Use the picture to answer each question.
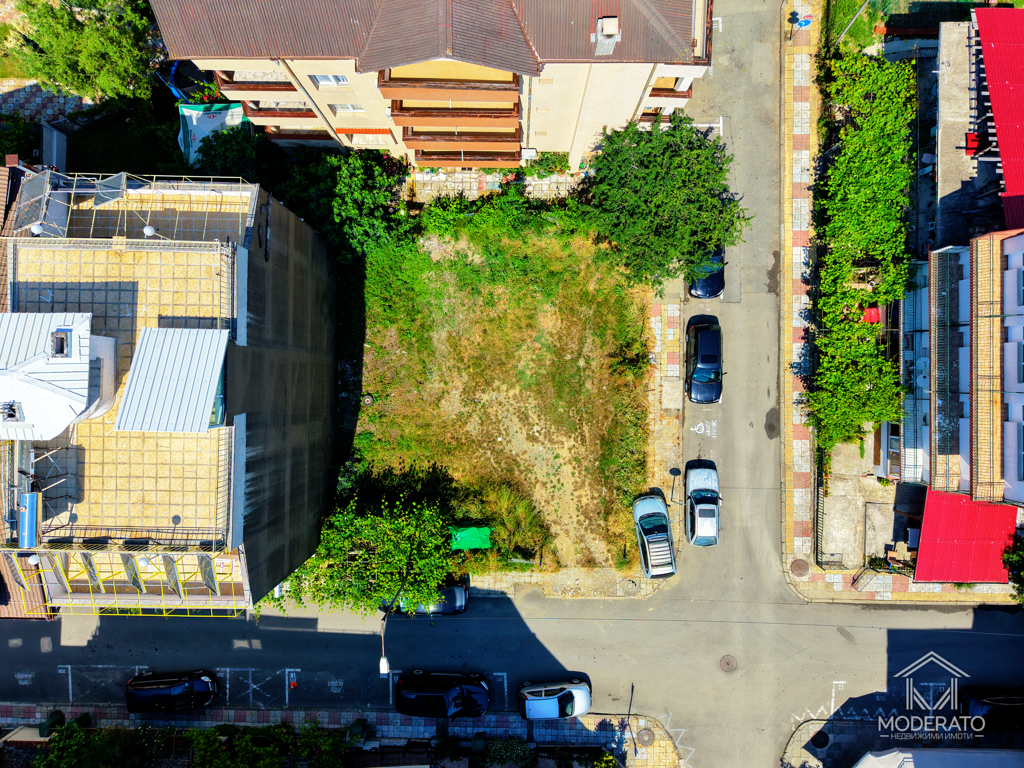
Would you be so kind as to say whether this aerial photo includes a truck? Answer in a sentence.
No, no truck is visible in the view.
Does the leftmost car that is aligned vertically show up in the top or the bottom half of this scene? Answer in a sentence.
Seen from above, the leftmost car that is aligned vertically lies in the bottom half of the view.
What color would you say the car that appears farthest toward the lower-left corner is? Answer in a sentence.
The color of the car that appears farthest toward the lower-left corner is black.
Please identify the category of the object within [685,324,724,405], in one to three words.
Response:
car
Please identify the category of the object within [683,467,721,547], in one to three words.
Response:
car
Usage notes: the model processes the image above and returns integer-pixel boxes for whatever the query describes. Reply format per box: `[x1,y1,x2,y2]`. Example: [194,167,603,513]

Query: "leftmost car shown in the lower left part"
[127,667,215,712]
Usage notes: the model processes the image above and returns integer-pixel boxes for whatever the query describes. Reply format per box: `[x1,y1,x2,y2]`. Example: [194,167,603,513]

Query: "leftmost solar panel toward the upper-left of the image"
[13,170,51,235]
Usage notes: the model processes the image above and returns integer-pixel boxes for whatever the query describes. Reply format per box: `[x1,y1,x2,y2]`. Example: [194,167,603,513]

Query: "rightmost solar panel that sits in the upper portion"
[93,172,127,212]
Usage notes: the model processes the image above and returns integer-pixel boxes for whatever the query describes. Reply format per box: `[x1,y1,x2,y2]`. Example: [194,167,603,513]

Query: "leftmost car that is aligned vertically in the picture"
[632,494,674,577]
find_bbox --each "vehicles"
[401,672,485,716]
[384,580,463,619]
[127,667,215,712]
[632,494,674,577]
[685,324,724,405]
[683,467,721,547]
[685,241,725,304]
[520,679,589,720]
